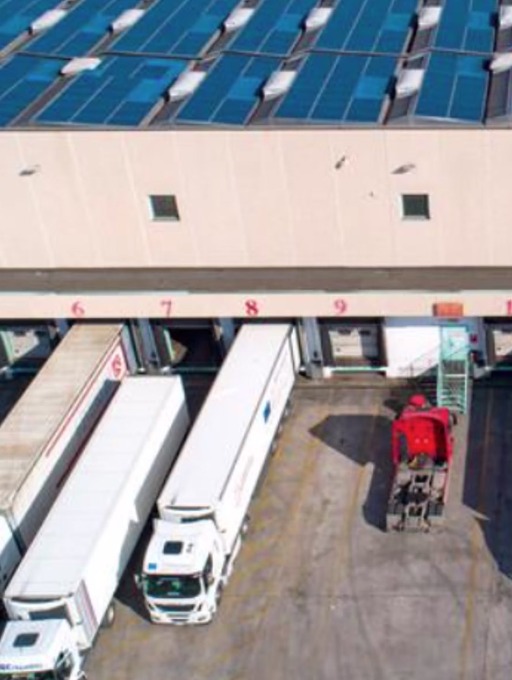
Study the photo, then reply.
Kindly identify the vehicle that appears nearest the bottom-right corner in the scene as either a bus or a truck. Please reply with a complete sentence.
The vehicle that appears nearest the bottom-right corner appears to be a truck.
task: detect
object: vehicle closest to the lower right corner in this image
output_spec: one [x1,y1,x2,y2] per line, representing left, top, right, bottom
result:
[390,413,454,534]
